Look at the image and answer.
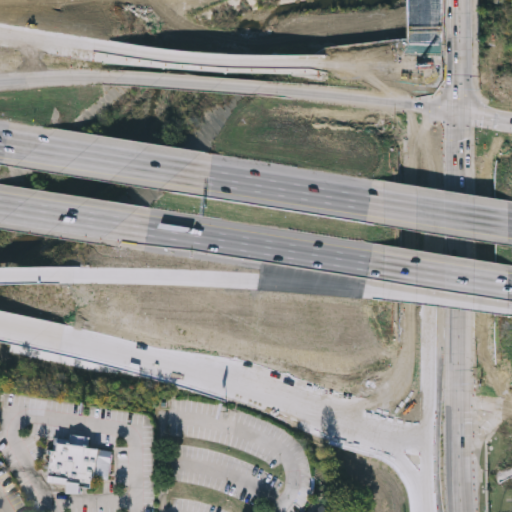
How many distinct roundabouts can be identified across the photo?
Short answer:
0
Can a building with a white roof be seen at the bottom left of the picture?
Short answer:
Yes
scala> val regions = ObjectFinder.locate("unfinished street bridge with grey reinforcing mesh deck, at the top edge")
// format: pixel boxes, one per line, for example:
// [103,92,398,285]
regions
[404,0,442,54]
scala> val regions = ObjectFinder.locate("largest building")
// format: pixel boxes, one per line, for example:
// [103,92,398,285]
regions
[46,435,112,494]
